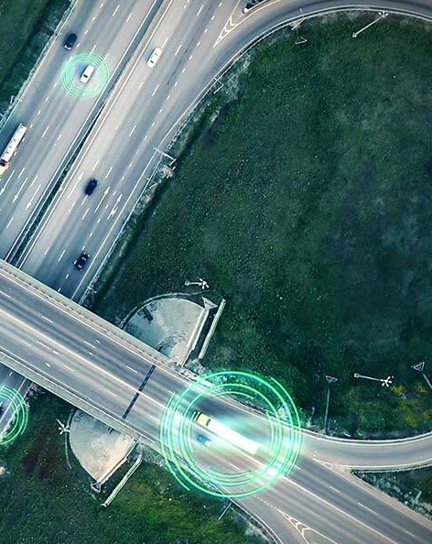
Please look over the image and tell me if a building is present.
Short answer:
No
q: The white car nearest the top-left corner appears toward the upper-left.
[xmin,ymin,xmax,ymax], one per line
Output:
[79,64,94,85]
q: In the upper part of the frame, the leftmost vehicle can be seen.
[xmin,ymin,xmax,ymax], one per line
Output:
[0,123,27,176]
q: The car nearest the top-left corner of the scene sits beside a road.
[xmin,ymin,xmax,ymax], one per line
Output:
[63,30,78,50]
